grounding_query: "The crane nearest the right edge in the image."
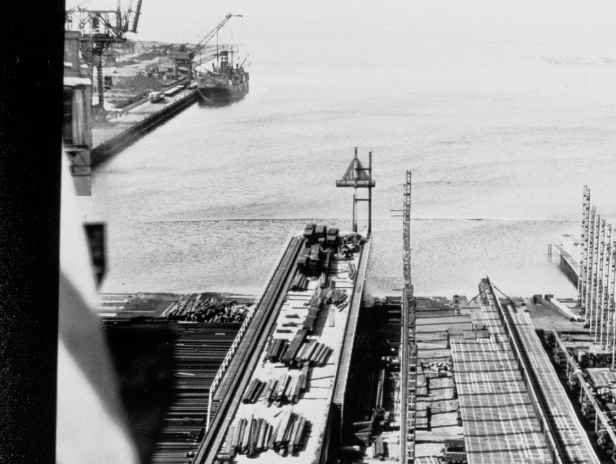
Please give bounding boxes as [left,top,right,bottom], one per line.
[163,14,242,93]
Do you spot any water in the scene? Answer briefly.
Yes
